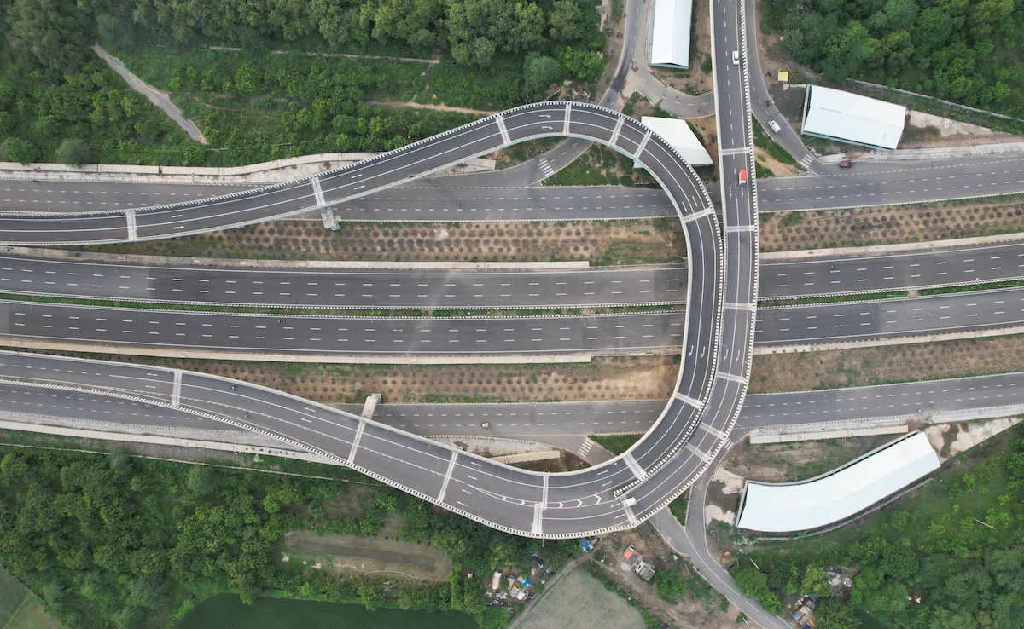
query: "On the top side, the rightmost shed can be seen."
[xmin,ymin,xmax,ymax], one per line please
[801,85,906,150]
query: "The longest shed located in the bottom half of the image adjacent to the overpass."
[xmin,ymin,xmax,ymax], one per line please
[735,431,940,532]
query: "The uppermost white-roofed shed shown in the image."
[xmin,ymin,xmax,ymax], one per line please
[645,0,693,72]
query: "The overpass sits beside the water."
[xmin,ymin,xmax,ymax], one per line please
[0,0,760,540]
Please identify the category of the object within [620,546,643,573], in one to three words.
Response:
shed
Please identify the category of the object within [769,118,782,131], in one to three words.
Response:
vehicle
